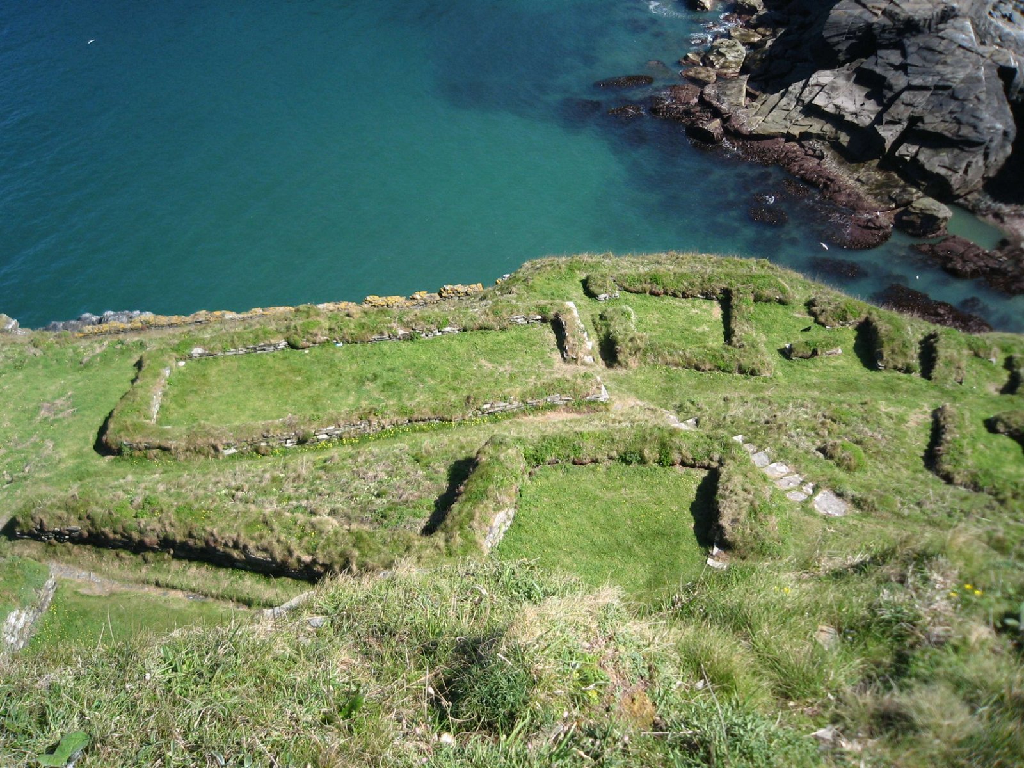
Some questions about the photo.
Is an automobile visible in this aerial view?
No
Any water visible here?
Yes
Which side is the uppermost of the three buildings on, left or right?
right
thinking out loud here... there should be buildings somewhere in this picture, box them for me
[434,430,775,582]
[586,273,798,385]
[98,303,615,469]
